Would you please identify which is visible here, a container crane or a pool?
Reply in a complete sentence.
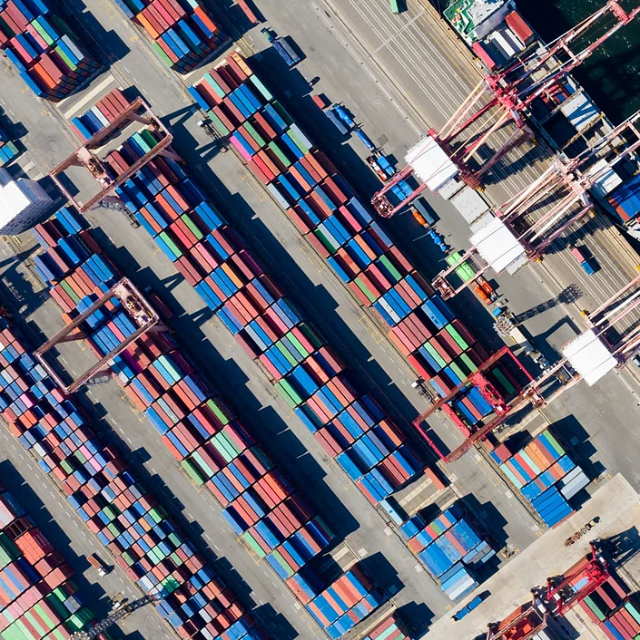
Visible in the photo is a container crane.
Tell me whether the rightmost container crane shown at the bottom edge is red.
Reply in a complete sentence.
Yes, red is the color of the rightmost container crane shown at the bottom edge.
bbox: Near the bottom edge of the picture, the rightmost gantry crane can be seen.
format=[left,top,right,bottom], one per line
[540,536,610,620]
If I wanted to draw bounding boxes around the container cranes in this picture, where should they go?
[519,262,640,416]
[412,344,535,462]
[484,582,552,640]
[425,105,640,305]
[34,276,166,394]
[360,0,640,225]
[540,536,610,620]
[48,94,195,216]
